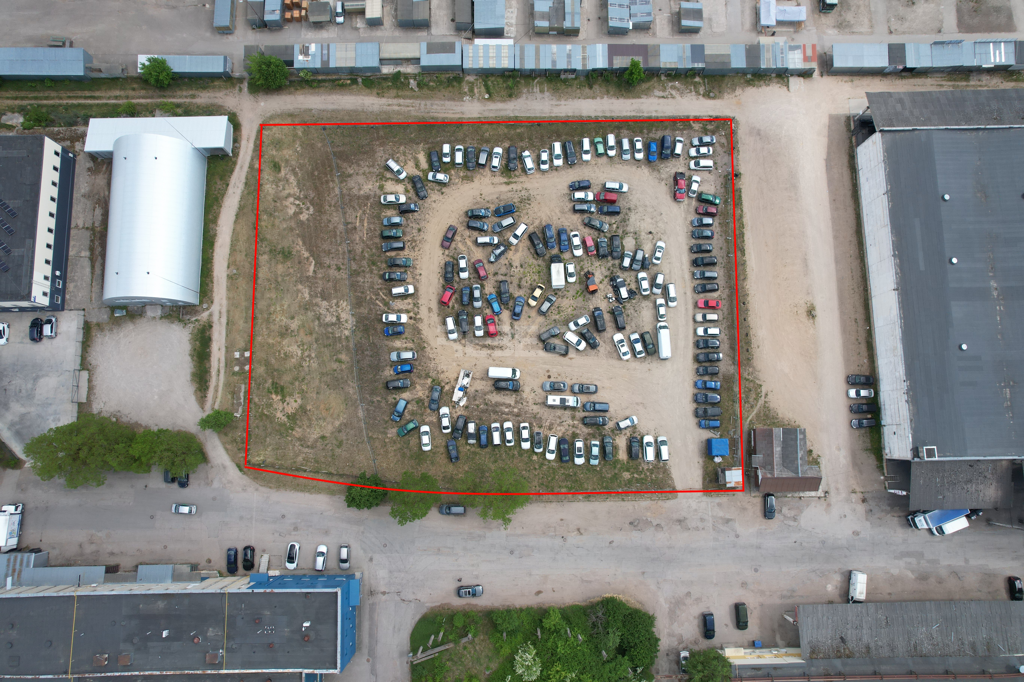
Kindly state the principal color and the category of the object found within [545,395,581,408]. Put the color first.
white vehicle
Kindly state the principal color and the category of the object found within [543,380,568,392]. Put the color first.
gray vehicle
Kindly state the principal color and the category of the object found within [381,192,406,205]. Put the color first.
white vehicle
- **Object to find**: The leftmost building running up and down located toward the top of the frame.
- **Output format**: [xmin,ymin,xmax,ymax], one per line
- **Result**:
[0,134,76,310]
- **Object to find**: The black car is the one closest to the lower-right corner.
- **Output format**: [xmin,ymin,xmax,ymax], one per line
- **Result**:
[1008,577,1022,601]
